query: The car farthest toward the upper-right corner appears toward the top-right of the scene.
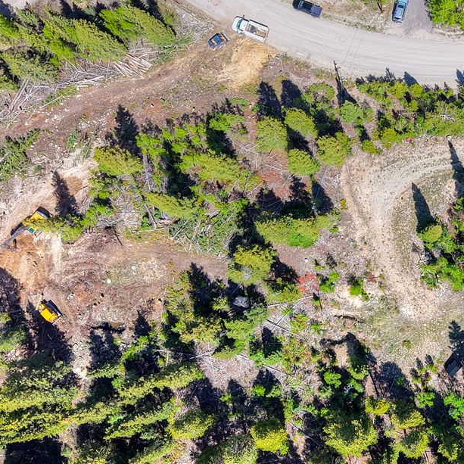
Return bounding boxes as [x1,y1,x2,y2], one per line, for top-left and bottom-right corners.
[392,0,408,26]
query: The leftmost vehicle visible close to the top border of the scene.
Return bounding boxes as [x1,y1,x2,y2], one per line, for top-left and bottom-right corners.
[230,18,272,44]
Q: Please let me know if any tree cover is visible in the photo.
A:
Yes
